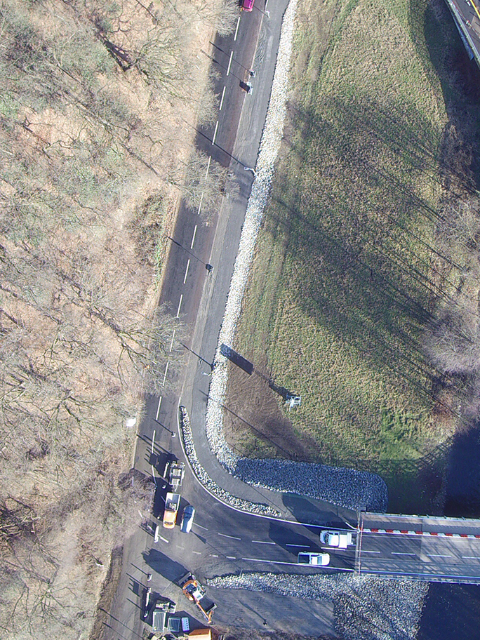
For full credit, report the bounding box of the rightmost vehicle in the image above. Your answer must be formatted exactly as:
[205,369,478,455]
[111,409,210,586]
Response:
[319,530,355,548]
